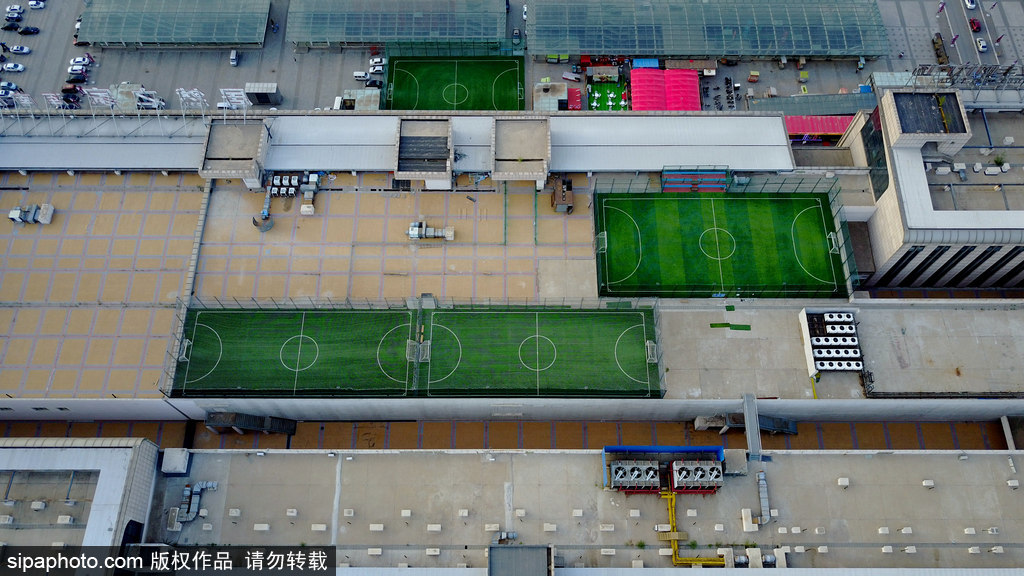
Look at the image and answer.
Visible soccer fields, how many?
4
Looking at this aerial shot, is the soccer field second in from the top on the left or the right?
right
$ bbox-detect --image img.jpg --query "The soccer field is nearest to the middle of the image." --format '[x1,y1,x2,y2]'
[418,309,664,398]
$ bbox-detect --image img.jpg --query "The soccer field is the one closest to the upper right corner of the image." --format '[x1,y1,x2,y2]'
[598,194,848,286]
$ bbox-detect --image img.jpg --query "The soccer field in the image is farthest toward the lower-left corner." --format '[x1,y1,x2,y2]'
[174,308,422,388]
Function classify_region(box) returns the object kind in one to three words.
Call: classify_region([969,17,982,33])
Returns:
vehicle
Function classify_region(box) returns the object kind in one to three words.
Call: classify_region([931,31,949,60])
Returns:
vehicle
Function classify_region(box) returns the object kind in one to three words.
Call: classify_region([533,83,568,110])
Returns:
shed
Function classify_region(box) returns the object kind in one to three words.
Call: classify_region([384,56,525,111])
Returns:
soccer field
